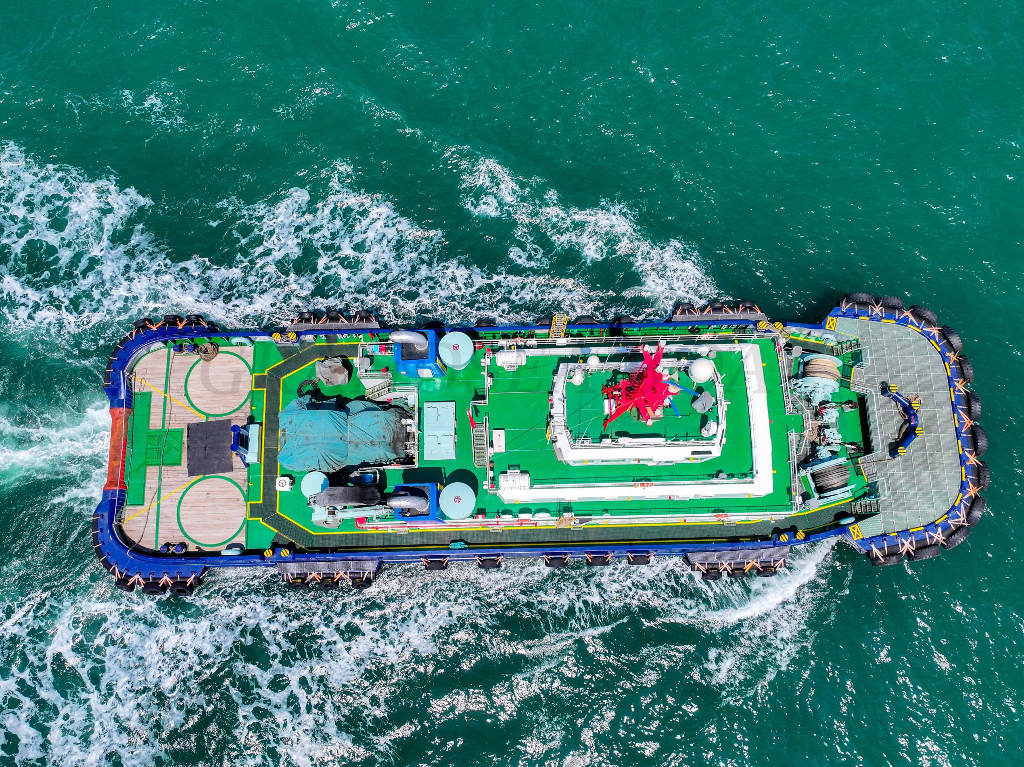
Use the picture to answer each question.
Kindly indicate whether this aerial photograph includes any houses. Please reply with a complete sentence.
No, there appears to be no house in this shot.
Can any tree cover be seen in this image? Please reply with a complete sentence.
No, no tree cover is visible.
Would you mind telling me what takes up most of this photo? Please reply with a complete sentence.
The largest share of the image is taken up by water.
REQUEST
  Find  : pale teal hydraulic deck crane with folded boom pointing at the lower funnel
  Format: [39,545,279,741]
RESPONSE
[307,495,390,527]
